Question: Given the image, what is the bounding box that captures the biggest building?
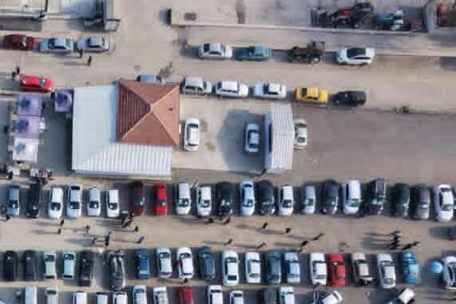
[72,80,180,184]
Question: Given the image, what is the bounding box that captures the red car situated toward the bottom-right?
[328,254,346,287]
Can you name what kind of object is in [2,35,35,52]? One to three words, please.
car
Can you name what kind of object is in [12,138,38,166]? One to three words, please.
tent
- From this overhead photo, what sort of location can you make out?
parking lot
